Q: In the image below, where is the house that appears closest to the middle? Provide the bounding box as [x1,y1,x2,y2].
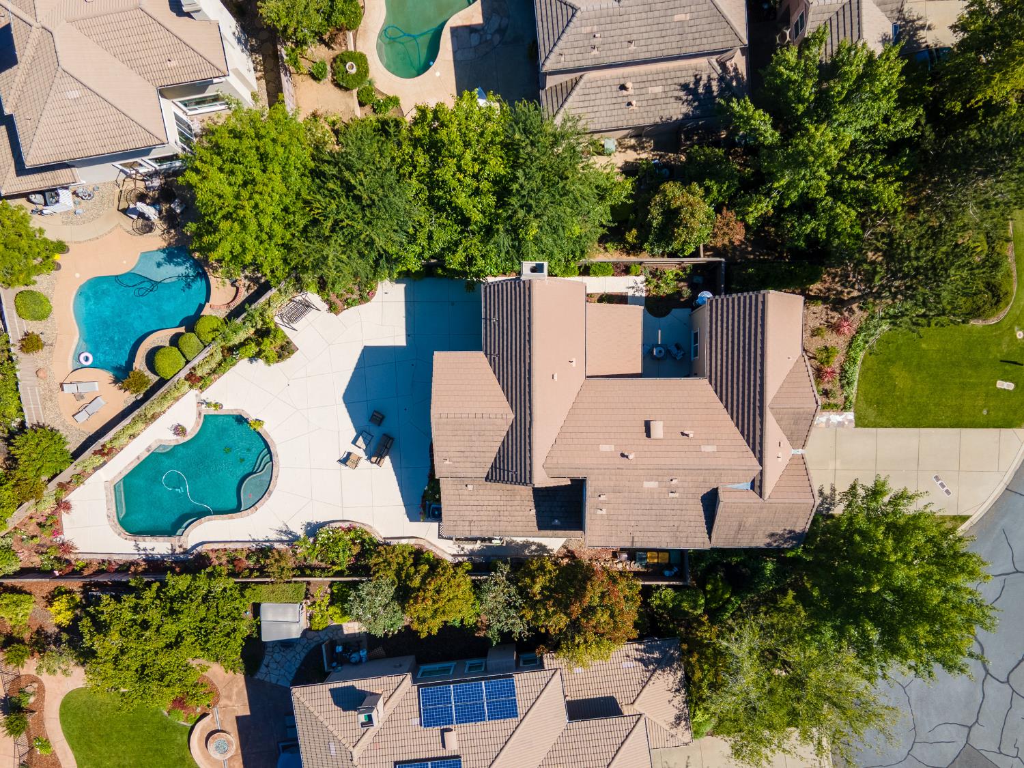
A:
[432,261,822,550]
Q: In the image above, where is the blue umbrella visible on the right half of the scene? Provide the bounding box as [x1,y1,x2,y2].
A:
[694,290,710,306]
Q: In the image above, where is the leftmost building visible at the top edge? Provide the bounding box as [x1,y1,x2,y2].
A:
[0,0,255,203]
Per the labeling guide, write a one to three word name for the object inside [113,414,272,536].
swimming pool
